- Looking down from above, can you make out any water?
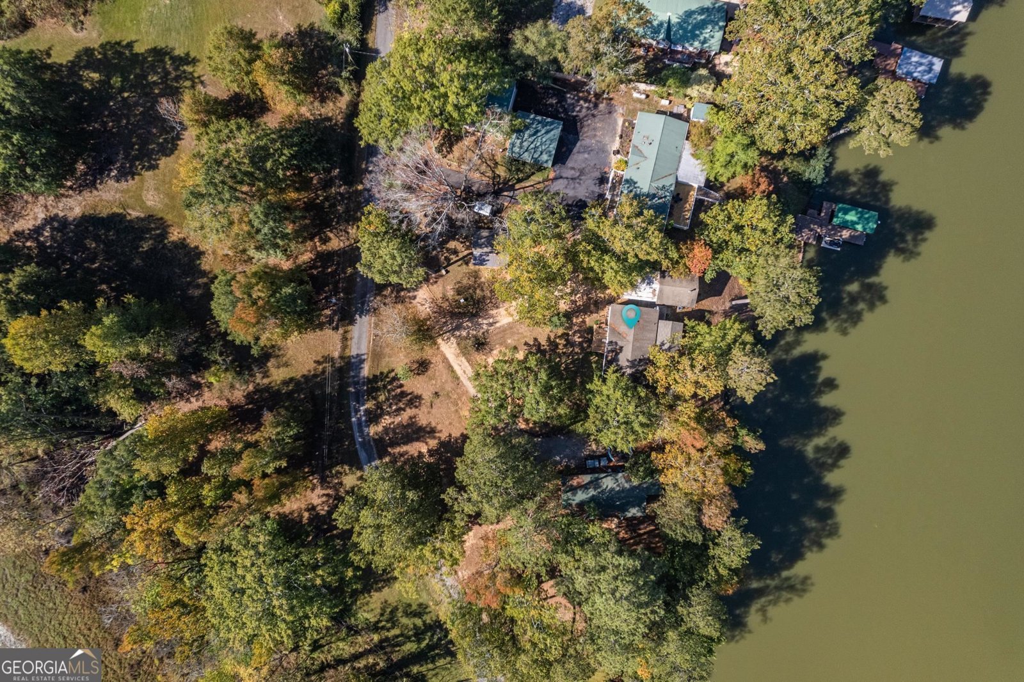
Yes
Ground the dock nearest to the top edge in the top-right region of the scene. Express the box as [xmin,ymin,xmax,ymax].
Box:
[906,0,970,33]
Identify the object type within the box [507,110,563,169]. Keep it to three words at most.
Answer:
building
